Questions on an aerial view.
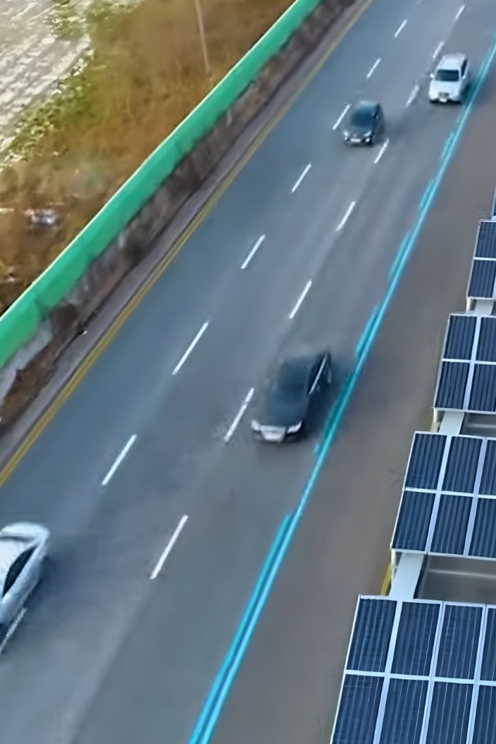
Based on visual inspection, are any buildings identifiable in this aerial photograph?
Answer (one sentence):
No, I find no building anywhere in the image.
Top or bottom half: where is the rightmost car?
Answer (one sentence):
The rightmost car is in the top half of the image.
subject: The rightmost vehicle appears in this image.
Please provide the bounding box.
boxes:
[430,54,471,100]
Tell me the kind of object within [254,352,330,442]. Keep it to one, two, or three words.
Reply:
car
